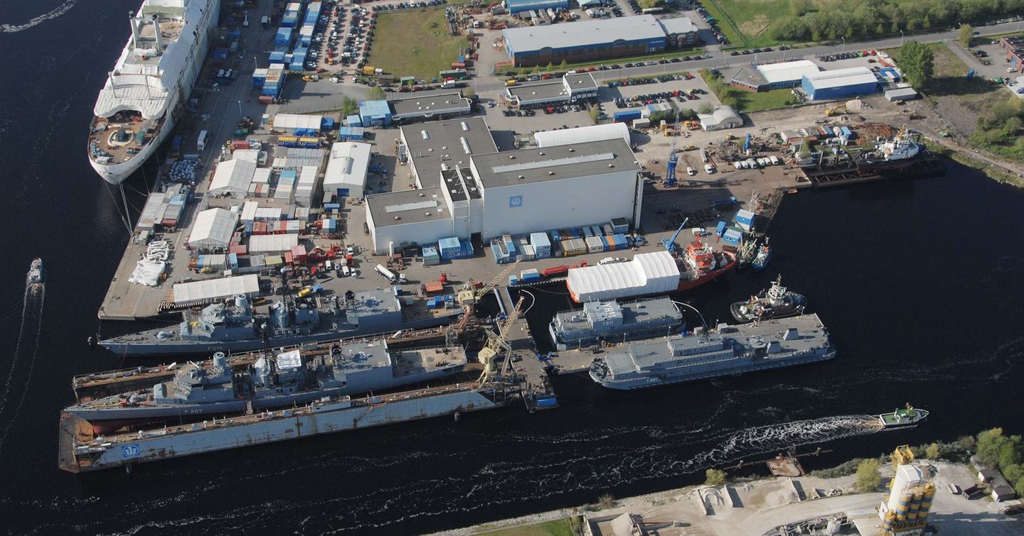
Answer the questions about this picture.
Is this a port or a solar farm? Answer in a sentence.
It's a port.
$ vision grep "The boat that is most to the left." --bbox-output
[27,256,43,286]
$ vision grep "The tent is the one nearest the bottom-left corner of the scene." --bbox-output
[173,275,260,308]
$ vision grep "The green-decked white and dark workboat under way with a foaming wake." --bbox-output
[878,405,928,432]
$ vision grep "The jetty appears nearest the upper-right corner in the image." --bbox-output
[801,141,948,193]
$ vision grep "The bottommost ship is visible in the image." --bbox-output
[766,452,802,477]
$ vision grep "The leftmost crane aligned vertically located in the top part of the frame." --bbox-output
[662,109,681,190]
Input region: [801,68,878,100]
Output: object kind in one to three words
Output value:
building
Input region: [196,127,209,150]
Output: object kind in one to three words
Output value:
vehicle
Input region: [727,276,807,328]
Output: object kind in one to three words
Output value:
boat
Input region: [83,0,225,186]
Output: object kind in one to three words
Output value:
ship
